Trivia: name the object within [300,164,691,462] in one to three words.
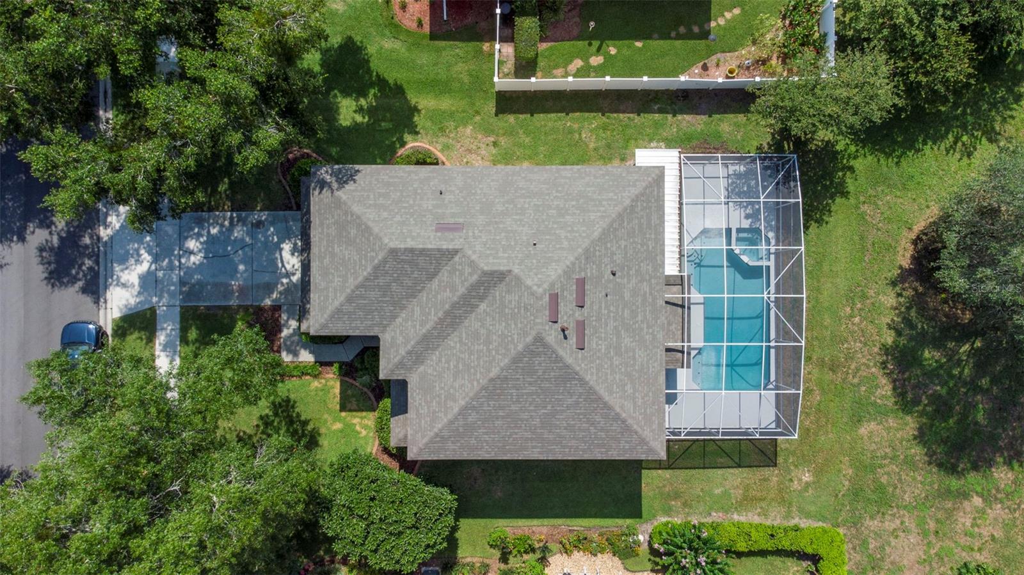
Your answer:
house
